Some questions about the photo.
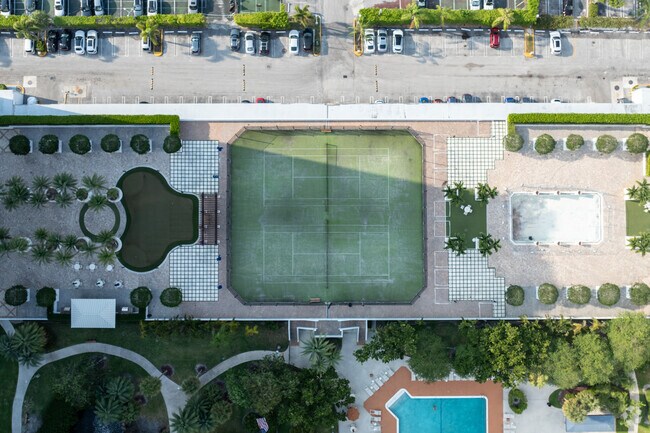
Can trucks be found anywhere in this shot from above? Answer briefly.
No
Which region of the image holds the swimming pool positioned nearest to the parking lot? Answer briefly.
right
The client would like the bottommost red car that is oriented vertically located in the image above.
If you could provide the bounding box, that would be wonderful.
[488,26,500,50]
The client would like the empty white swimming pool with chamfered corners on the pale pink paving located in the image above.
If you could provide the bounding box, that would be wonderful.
[510,193,602,244]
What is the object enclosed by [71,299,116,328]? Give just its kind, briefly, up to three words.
gazebo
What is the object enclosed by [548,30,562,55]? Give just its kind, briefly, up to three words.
vehicle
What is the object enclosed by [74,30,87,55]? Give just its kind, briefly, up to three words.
vehicle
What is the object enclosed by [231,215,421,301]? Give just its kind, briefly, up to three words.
tennis court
